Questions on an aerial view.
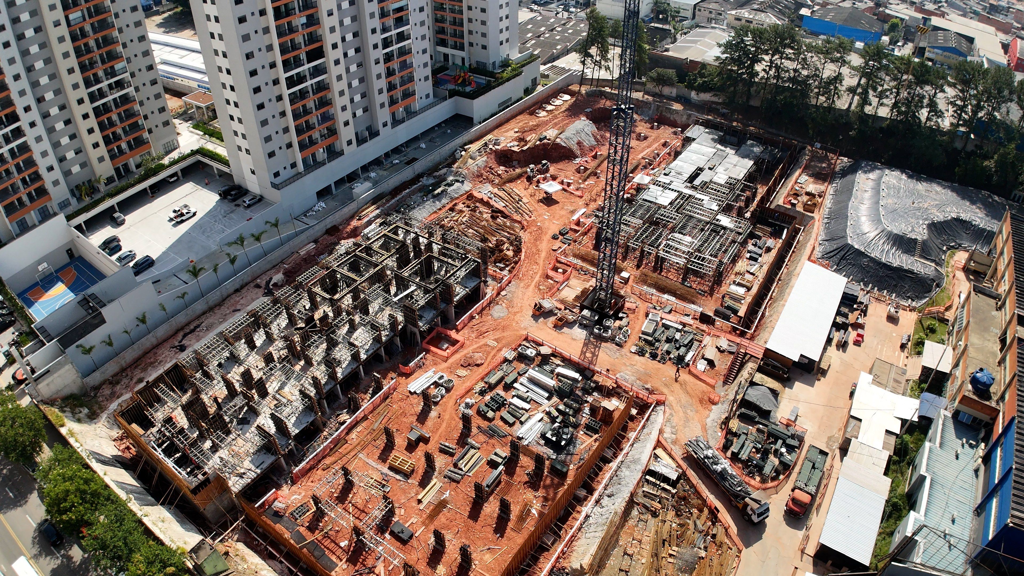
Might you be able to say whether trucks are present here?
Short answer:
Yes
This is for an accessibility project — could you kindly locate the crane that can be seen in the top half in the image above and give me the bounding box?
[580,0,645,327]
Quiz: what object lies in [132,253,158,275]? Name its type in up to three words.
car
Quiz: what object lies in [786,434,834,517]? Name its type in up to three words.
truck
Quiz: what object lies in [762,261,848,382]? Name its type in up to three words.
shed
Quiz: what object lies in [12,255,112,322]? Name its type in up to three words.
sports court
